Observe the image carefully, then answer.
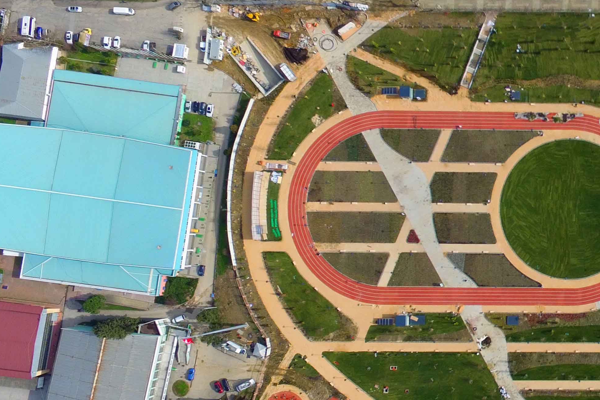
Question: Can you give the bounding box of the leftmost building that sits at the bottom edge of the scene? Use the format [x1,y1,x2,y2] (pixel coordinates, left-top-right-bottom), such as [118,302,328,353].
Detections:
[0,296,66,381]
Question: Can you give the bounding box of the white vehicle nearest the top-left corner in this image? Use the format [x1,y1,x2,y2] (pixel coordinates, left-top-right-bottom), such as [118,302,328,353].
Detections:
[17,14,31,36]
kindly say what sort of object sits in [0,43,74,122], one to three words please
building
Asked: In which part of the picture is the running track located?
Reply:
right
